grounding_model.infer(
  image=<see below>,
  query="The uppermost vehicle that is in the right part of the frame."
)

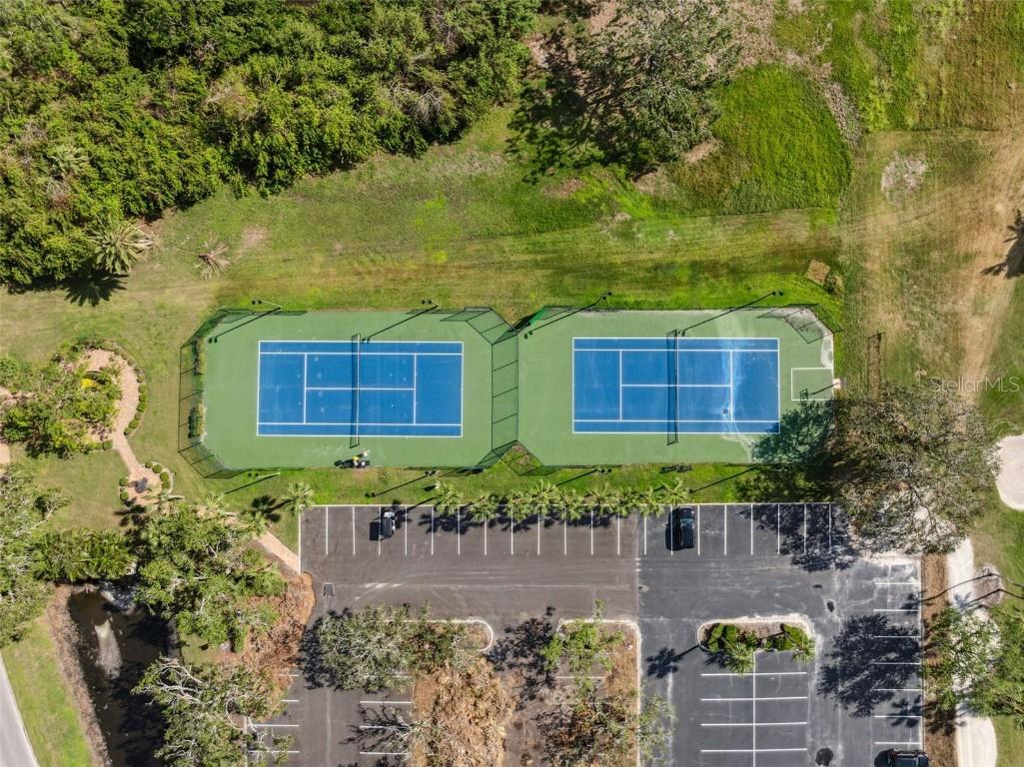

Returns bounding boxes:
[678,508,699,550]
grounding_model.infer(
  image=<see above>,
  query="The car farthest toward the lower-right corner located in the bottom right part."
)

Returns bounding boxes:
[887,747,930,767]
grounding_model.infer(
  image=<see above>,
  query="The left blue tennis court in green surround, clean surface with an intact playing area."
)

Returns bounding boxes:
[204,309,517,469]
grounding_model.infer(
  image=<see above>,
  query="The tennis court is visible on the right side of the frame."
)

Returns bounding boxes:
[518,307,833,466]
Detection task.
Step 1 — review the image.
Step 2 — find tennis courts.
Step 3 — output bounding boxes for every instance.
[204,309,517,469]
[518,307,833,466]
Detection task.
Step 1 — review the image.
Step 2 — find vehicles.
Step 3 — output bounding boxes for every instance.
[678,508,699,550]
[887,747,930,767]
[382,515,396,540]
